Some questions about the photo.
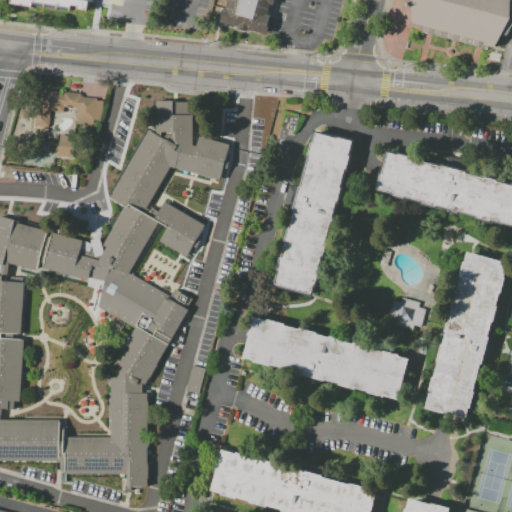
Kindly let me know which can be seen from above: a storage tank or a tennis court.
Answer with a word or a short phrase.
tennis court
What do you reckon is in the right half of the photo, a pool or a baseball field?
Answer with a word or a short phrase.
pool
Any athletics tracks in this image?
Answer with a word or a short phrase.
No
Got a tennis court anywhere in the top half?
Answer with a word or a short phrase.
No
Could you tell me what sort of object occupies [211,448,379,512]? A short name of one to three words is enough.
building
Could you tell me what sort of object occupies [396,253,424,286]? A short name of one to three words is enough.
swimming pool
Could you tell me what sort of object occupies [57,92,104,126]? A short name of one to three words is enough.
house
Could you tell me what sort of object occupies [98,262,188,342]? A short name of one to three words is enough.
building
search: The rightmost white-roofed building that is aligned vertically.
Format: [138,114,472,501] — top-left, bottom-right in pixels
[424,251,504,418]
